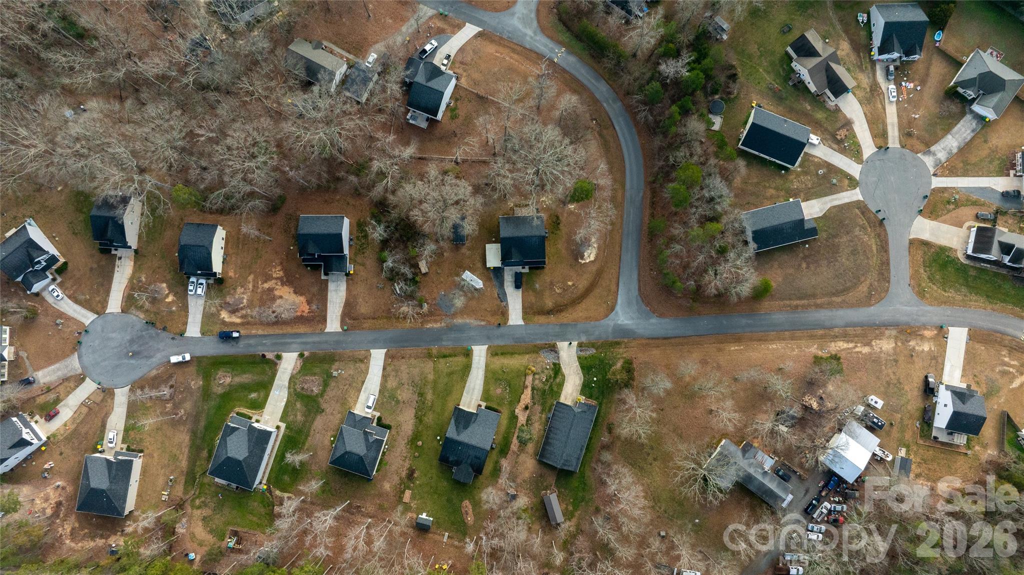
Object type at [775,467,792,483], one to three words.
car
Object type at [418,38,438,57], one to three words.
vehicle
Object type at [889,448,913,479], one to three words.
shed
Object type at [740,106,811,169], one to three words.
house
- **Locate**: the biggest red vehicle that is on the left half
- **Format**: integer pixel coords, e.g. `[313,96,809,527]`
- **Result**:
[41,407,59,423]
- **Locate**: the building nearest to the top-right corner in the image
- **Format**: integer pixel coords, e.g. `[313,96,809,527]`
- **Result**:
[947,45,1024,120]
